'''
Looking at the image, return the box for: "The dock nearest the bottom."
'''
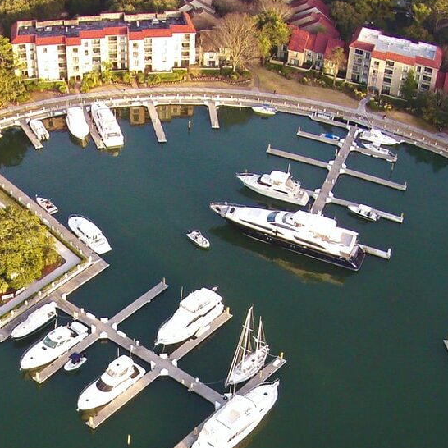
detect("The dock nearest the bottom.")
[172,401,225,448]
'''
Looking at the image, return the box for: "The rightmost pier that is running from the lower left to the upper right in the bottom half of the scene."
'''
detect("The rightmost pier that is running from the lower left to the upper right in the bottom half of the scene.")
[229,357,290,398]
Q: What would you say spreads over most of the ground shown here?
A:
water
